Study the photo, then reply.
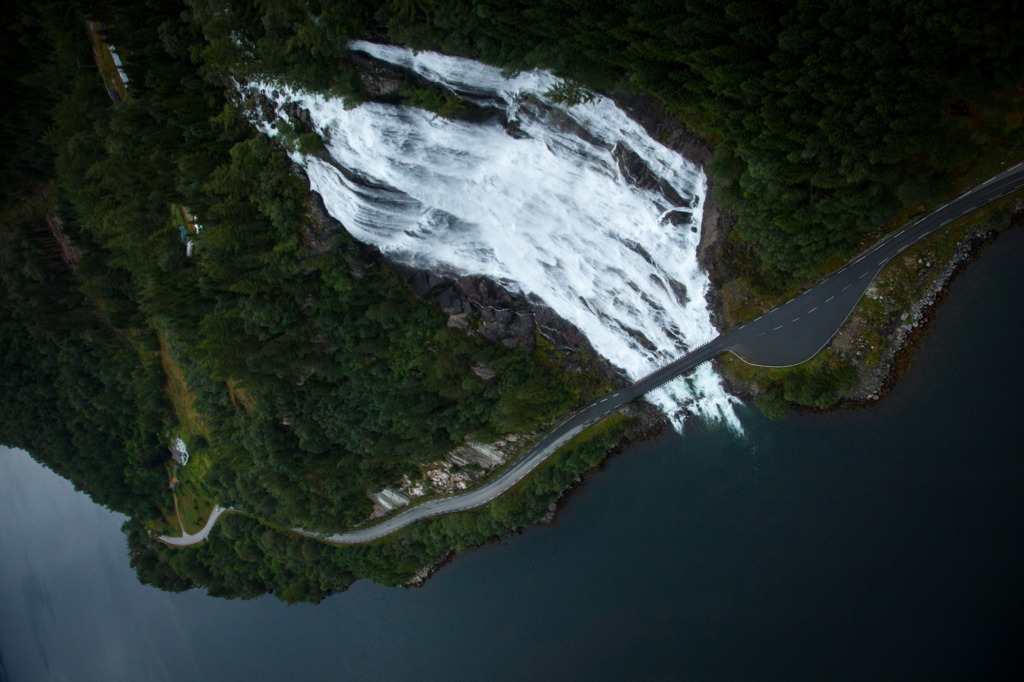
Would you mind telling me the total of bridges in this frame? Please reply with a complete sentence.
The picture shows just 1 bridge.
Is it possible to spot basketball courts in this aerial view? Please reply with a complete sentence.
No, the scene contains no basketball court.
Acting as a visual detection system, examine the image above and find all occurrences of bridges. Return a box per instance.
[629,335,723,399]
